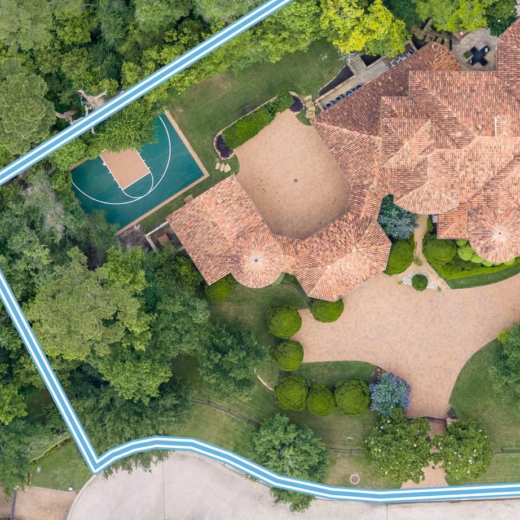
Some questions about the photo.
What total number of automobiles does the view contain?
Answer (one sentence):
The photo contains no automobiles.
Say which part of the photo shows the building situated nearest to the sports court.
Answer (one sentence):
The building situated nearest to the sports court sits in the center section of the image.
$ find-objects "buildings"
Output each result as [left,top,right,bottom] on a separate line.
[165,173,287,289]
[311,16,520,264]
